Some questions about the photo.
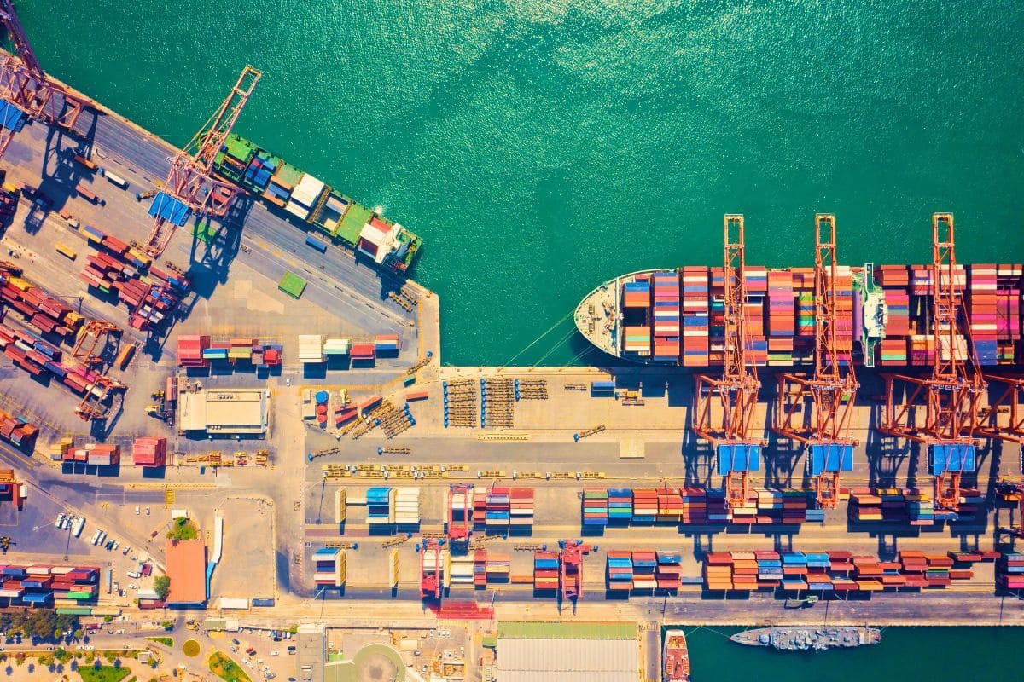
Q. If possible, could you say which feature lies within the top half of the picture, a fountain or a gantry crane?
gantry crane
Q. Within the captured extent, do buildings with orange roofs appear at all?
Yes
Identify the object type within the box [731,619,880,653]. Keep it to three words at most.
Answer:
ship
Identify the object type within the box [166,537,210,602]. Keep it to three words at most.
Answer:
building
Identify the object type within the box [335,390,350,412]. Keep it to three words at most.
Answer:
work vehicle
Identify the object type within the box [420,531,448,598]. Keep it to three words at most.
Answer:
crane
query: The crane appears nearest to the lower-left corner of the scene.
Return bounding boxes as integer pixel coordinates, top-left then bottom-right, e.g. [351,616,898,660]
[78,369,139,418]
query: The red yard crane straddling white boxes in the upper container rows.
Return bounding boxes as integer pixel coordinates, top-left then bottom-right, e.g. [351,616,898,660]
[447,475,474,540]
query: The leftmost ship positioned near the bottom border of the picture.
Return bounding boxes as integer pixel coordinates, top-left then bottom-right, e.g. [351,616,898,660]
[662,629,691,682]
